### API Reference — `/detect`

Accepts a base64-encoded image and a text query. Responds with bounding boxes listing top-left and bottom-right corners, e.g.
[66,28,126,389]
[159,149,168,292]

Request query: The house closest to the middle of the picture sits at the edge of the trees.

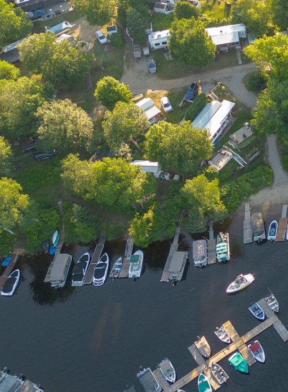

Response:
[134,97,165,128]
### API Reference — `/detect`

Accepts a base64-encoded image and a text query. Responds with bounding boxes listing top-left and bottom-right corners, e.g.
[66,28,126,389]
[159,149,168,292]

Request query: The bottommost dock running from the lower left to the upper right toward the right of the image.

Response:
[158,314,280,392]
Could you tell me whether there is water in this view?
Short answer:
Yes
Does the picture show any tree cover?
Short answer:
Yes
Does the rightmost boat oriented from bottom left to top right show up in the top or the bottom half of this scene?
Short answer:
bottom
